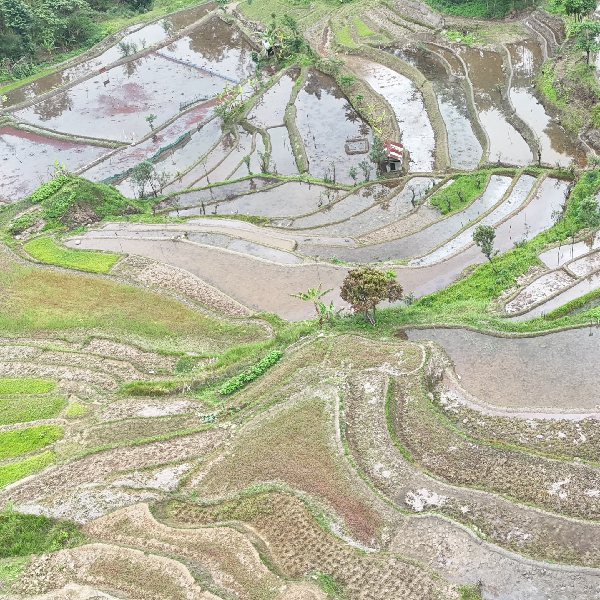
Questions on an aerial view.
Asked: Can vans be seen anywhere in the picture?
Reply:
No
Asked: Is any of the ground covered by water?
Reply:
Yes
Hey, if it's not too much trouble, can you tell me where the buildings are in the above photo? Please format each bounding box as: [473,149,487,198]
[257,40,280,63]
[380,137,406,167]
